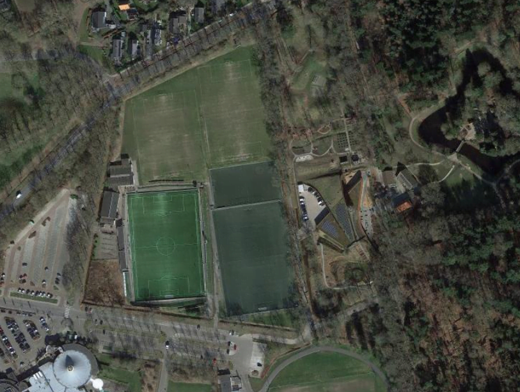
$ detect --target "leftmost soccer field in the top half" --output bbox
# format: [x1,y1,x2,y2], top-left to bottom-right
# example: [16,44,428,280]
[123,72,208,183]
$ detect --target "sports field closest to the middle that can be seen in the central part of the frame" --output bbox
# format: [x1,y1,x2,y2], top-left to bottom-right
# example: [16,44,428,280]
[210,162,280,207]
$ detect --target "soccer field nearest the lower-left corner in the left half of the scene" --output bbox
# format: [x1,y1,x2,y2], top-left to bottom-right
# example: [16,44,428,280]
[126,189,207,303]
